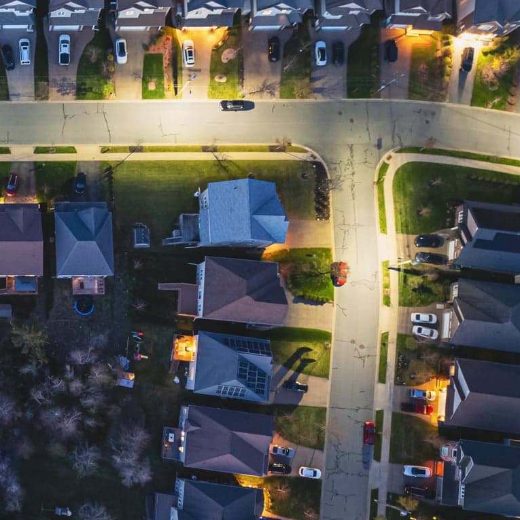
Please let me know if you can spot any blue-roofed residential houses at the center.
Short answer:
Yes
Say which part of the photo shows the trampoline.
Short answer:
left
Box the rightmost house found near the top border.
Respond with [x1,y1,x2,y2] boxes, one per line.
[452,0,520,39]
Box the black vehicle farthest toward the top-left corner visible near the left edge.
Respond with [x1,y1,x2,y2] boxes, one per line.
[1,45,14,72]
